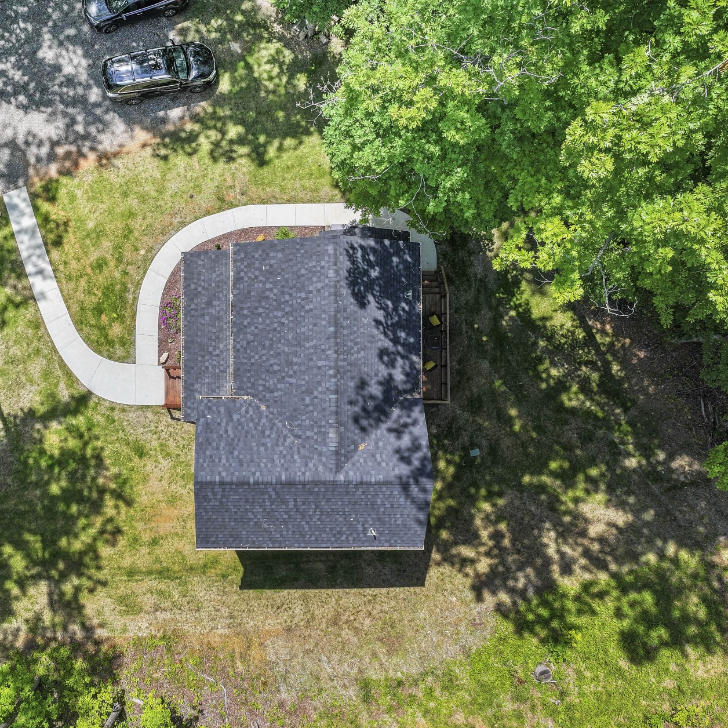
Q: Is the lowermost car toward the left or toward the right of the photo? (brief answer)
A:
left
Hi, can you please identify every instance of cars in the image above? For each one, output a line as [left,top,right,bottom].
[103,39,219,107]
[80,0,192,35]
